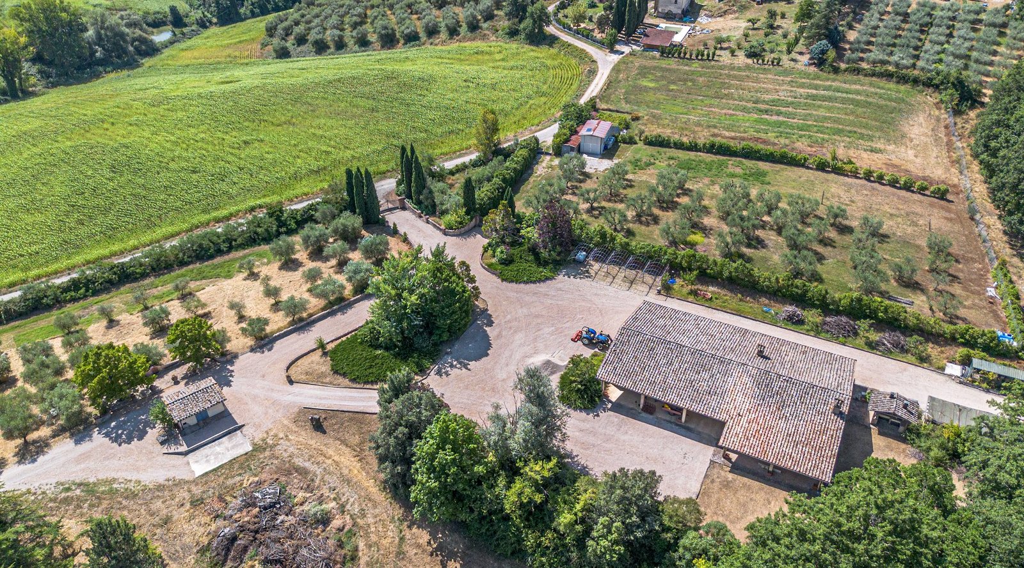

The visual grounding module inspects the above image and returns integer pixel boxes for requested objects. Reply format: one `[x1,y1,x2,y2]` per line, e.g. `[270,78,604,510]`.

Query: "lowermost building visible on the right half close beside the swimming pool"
[641,28,676,56]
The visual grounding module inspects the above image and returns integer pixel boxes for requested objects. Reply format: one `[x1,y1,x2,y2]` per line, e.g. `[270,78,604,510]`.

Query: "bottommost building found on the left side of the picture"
[162,377,227,438]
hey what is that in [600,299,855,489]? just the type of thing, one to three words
barn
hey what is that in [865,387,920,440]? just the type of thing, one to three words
building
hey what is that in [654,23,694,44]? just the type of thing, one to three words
swimming pool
